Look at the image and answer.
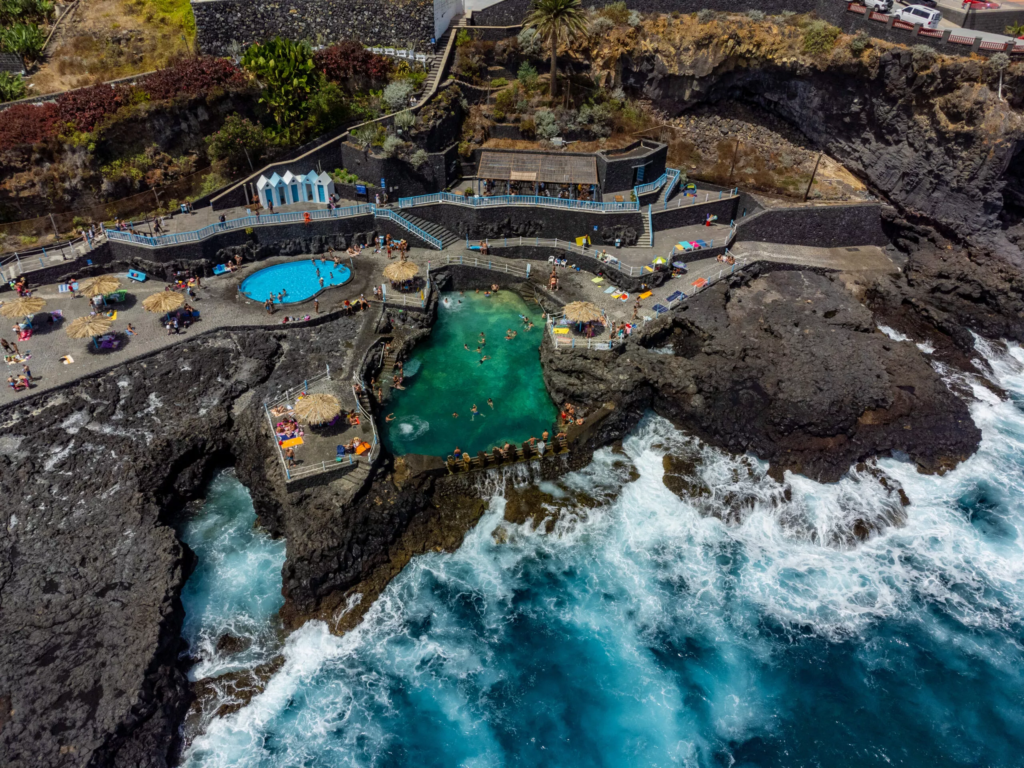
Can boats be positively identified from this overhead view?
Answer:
No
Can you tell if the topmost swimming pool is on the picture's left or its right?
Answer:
left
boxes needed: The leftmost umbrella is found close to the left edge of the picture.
[2,299,42,330]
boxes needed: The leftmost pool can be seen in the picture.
[238,258,354,306]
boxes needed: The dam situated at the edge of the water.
[443,437,569,481]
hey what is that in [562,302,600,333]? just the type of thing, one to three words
umbrella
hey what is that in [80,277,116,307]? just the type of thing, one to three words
umbrella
